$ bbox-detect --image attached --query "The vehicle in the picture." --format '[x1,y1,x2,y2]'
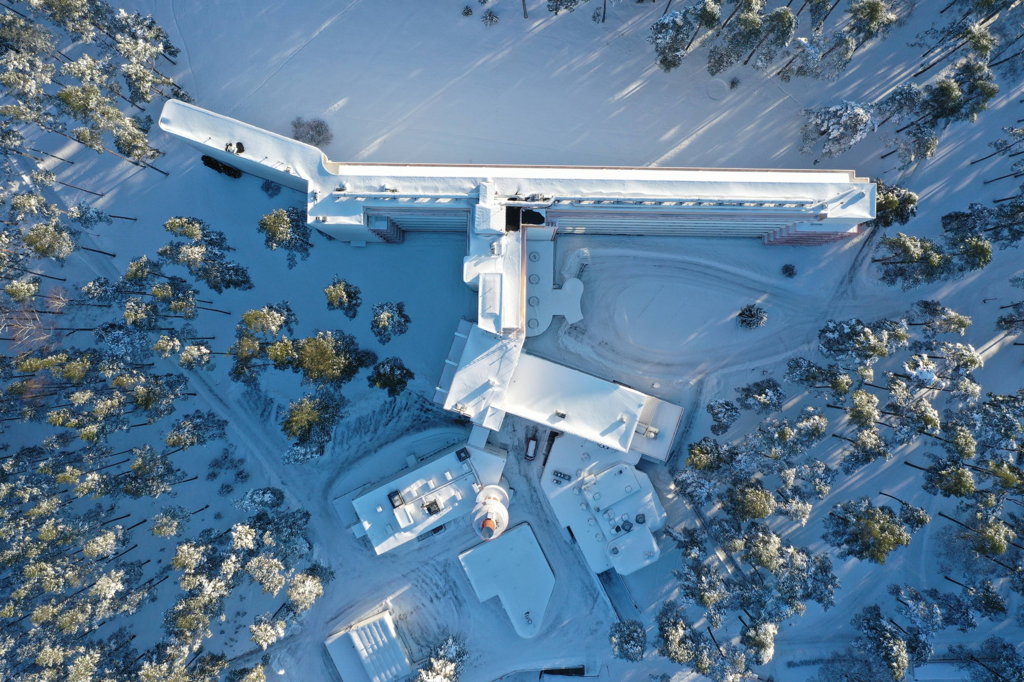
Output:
[524,437,538,462]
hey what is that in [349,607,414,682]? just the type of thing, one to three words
shed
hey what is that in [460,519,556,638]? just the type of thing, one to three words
building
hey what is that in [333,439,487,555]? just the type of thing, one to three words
building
